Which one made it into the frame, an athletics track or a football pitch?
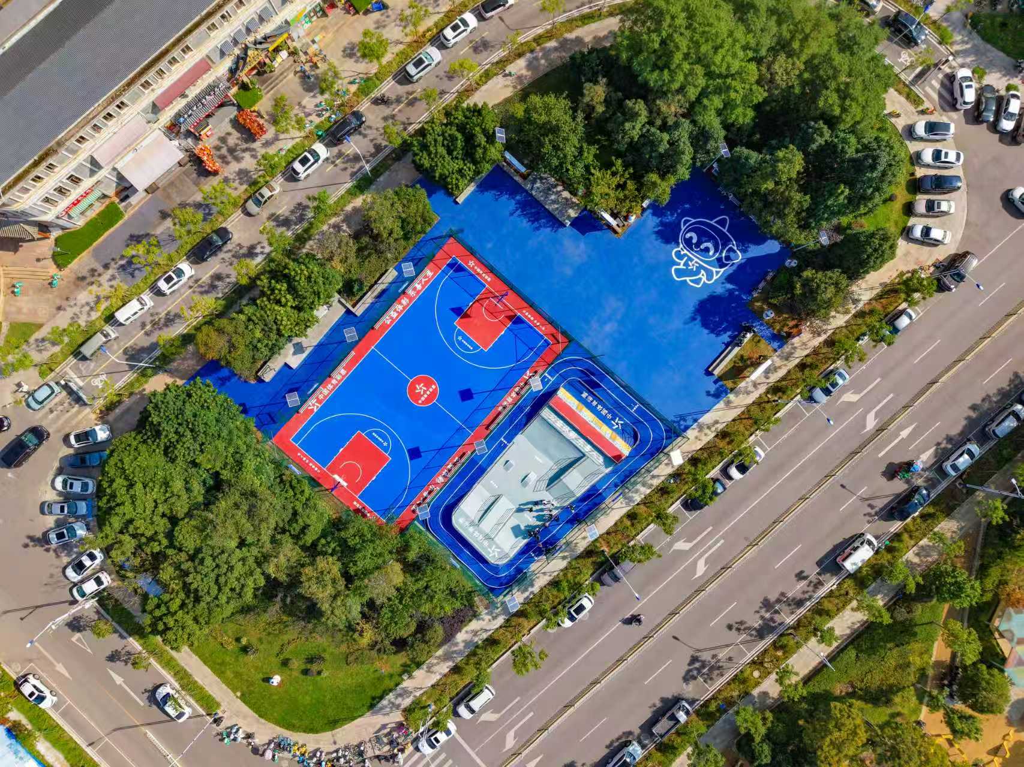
athletics track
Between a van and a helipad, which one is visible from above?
van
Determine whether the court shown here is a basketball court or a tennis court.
basketball court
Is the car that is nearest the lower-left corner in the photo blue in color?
No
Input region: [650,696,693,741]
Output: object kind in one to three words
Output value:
truck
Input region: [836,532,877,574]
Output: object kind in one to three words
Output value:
van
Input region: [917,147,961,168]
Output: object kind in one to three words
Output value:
car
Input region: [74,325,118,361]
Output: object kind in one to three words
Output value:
vehicle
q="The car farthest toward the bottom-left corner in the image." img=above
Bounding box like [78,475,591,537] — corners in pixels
[18,671,59,710]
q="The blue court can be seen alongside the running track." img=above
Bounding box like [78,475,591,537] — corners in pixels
[272,237,569,537]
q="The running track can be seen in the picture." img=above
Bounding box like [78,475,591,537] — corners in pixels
[423,353,668,590]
